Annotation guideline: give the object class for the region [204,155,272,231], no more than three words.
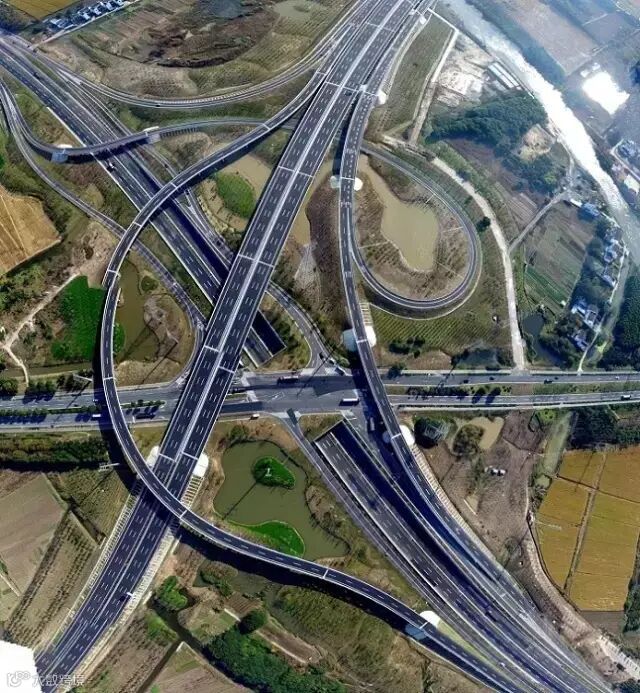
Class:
pond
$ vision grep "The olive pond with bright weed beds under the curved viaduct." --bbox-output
[114,259,158,365]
